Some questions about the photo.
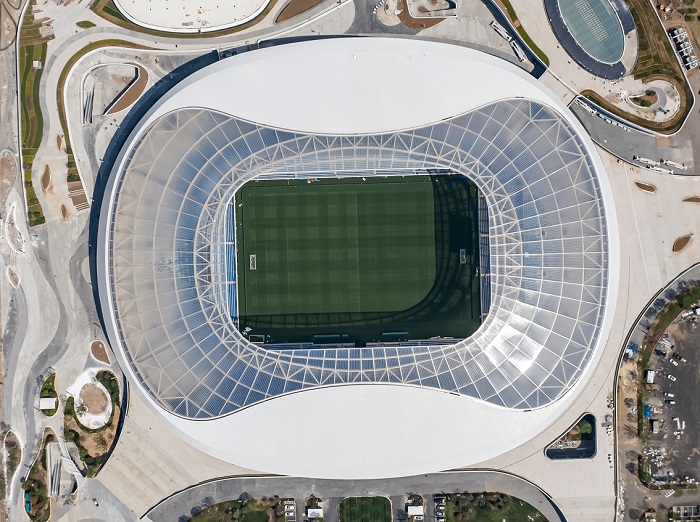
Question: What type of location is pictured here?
sports ground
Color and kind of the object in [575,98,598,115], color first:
white vehicle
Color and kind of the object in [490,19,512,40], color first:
white bus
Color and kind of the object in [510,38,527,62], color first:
white vehicle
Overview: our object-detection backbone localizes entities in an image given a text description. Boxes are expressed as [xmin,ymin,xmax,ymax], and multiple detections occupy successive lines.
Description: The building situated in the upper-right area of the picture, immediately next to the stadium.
[541,0,638,82]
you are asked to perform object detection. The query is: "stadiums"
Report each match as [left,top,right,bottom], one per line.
[98,40,619,478]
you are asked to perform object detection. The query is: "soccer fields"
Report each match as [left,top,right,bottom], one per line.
[234,177,480,348]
